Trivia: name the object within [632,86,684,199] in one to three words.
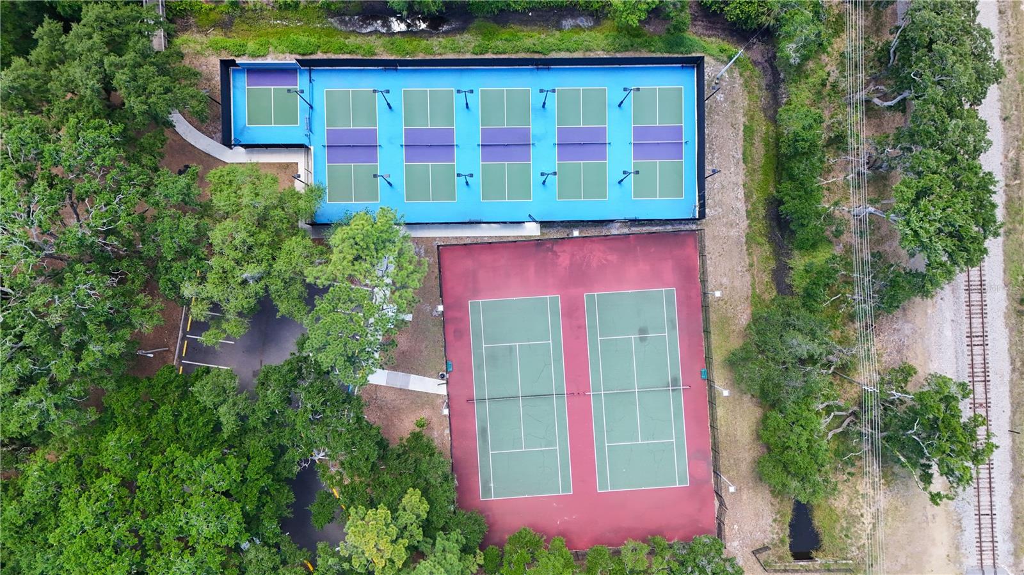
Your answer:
sports court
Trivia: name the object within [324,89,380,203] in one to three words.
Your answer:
sports court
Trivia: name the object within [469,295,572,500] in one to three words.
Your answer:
tennis court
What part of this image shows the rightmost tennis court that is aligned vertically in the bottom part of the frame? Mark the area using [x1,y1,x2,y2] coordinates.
[585,288,689,492]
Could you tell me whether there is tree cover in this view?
Yes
